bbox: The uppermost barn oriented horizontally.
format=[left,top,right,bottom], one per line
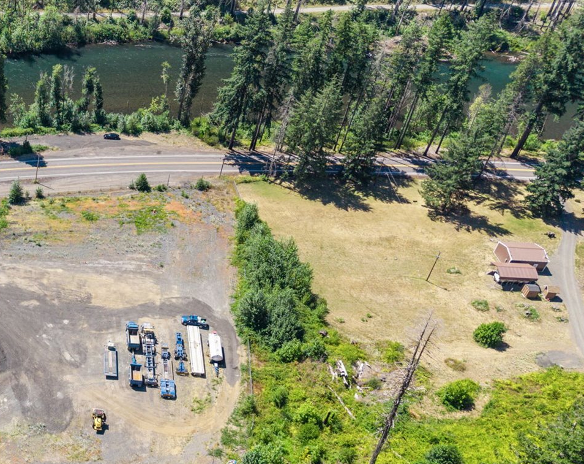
[490,241,555,273]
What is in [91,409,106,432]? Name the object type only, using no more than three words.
work vehicle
